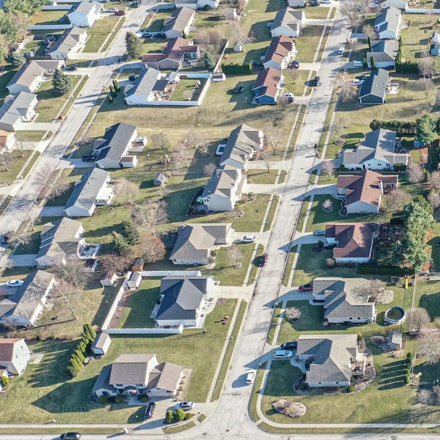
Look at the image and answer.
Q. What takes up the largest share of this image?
grass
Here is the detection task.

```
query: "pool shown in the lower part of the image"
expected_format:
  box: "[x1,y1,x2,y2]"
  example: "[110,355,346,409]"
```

[384,306,406,324]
